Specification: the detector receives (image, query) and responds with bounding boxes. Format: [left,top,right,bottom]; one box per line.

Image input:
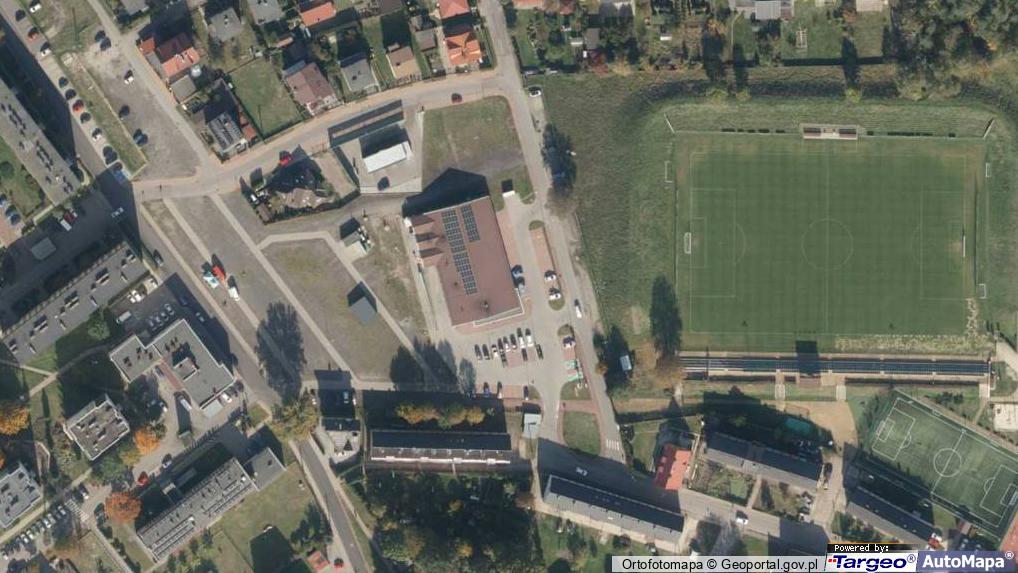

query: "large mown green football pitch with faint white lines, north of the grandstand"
[690,151,965,334]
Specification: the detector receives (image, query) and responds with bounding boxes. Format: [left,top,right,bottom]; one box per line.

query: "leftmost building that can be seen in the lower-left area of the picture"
[0,463,42,531]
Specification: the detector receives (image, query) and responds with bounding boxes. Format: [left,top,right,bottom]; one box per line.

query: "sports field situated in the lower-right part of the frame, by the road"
[859,389,1018,533]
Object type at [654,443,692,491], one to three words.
house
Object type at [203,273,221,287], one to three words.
vehicle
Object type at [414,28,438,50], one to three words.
building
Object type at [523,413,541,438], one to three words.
shed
